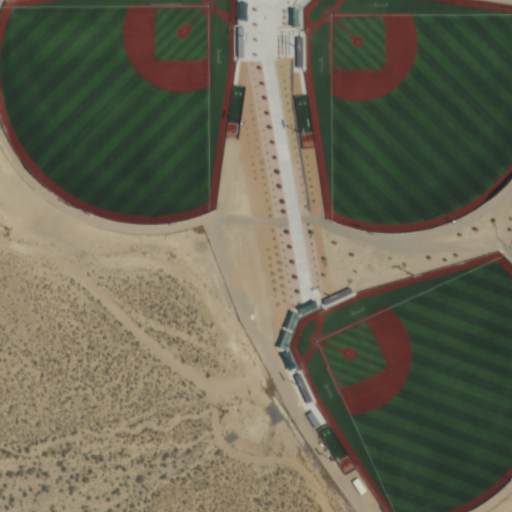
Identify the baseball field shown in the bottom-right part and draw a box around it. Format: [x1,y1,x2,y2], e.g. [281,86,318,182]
[290,248,512,512]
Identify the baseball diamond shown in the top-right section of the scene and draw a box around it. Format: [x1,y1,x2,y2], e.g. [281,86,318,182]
[304,0,512,233]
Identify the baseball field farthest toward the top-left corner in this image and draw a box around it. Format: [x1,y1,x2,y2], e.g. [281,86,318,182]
[0,0,236,224]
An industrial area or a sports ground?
sports ground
